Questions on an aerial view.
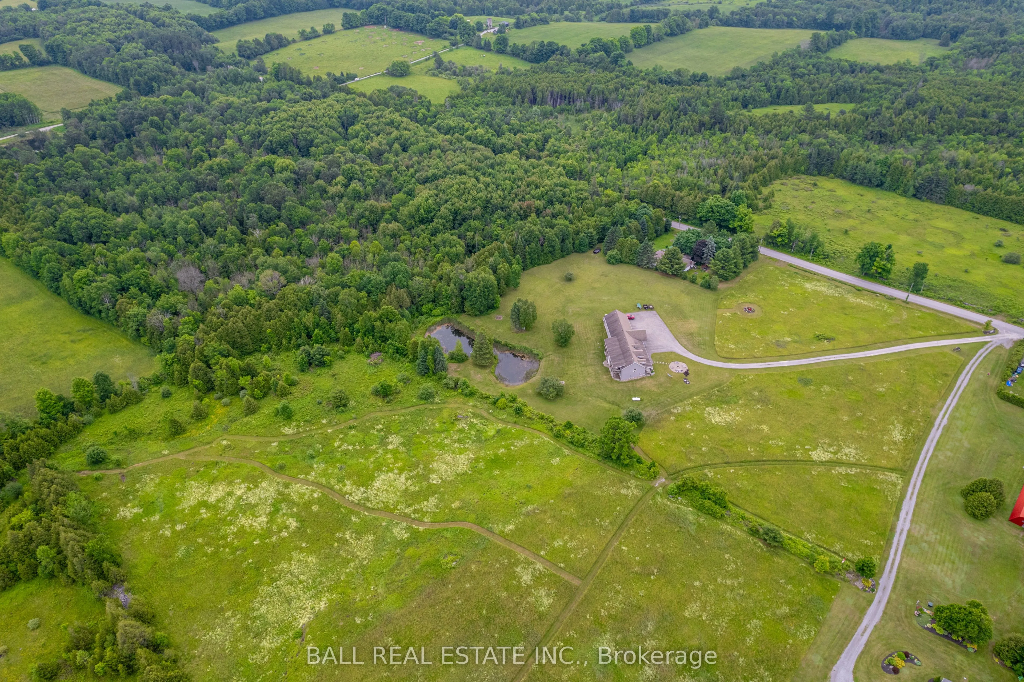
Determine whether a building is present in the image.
Yes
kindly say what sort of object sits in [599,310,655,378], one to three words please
house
